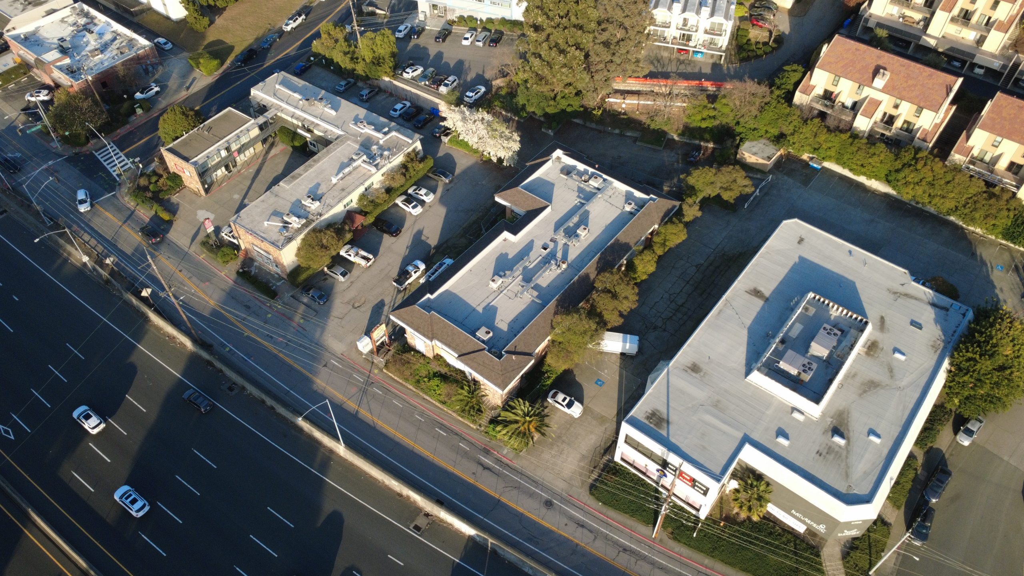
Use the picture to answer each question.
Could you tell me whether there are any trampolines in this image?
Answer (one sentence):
No, there appears to be no trampoline in this shot.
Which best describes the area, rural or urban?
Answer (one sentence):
It looks urban.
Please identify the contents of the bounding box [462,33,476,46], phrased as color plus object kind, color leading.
white vehicle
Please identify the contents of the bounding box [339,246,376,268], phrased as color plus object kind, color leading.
white truck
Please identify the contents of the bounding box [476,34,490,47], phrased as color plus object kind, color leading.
gray vehicle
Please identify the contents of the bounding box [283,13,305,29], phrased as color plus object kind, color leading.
white vehicle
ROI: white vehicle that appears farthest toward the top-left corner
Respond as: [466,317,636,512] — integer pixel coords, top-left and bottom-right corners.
[25,86,54,104]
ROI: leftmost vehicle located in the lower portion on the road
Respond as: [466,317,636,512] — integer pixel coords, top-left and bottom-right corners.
[75,403,104,437]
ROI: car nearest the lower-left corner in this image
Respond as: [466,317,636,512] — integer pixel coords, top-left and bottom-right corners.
[117,483,148,521]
